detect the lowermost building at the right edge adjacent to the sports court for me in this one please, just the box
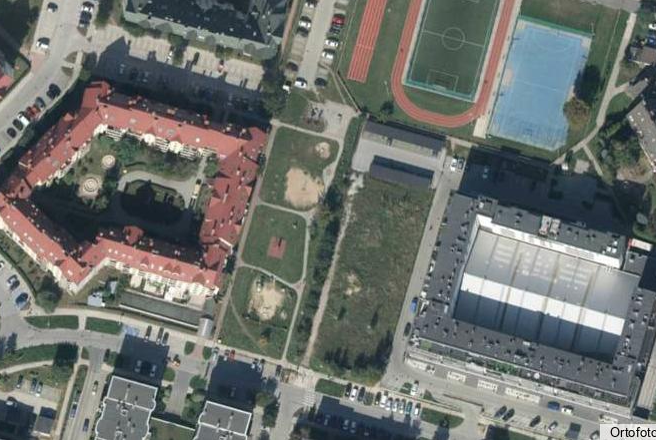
[413,191,656,422]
